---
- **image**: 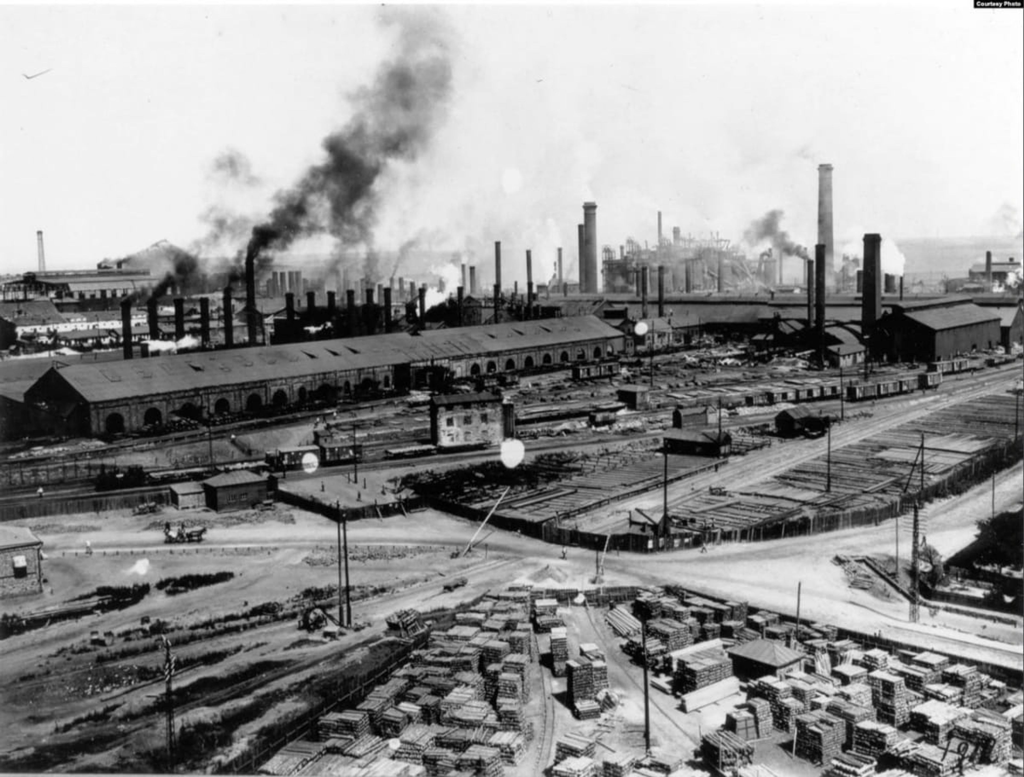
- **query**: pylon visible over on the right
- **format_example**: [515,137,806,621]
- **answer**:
[900,501,929,623]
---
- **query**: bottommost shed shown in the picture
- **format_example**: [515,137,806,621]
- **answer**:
[726,641,809,690]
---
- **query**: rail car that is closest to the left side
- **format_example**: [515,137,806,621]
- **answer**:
[93,457,152,489]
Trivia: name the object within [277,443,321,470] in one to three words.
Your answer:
rail car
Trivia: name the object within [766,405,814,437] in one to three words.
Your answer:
shed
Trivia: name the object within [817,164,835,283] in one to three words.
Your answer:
chimney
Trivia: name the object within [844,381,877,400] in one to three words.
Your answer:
rail car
